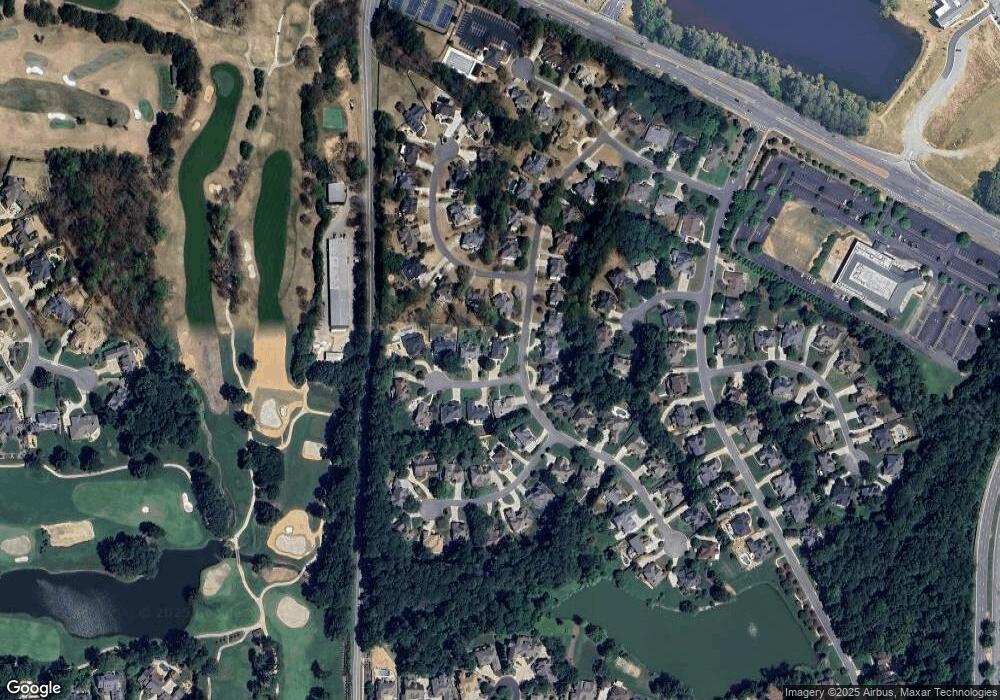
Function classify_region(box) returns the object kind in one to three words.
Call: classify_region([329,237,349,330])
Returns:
building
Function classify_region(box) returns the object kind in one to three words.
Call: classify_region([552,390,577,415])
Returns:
house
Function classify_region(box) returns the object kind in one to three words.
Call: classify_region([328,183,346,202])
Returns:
shed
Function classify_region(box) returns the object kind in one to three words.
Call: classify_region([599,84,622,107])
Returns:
house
